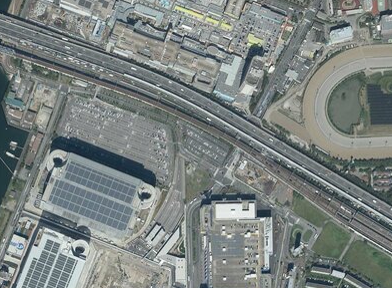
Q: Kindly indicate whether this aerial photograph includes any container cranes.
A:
No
